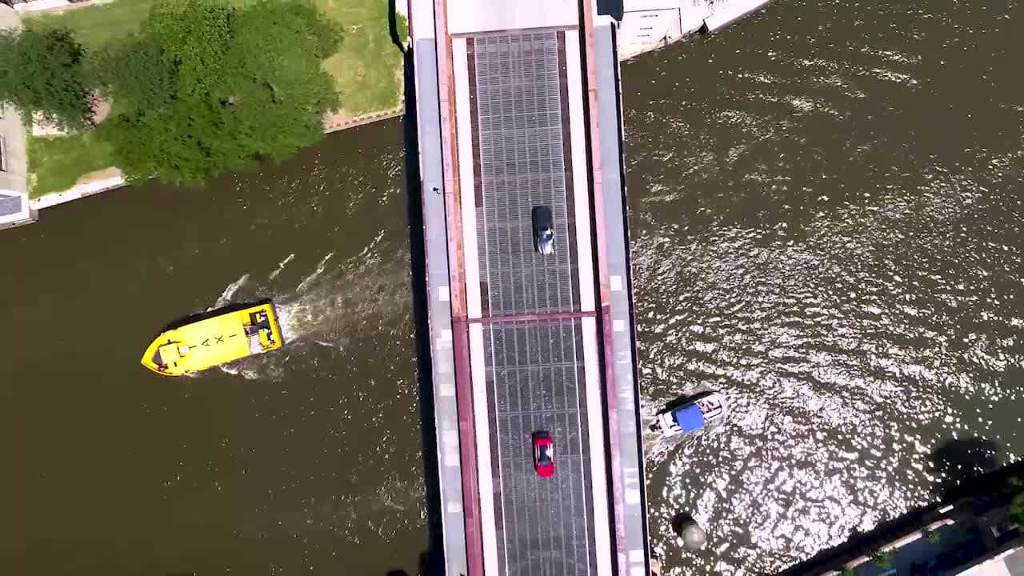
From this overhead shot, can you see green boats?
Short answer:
No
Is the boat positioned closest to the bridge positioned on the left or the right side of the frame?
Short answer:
right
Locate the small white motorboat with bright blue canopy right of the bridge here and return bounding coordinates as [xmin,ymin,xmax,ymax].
[656,395,725,434]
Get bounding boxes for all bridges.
[409,0,653,576]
